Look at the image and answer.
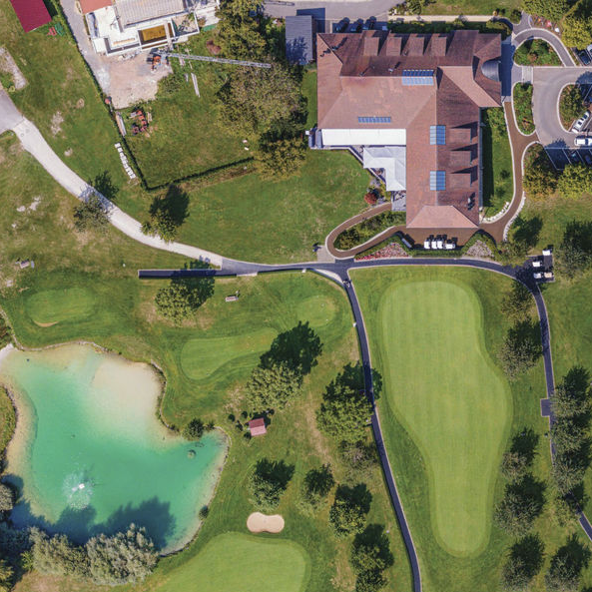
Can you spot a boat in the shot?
No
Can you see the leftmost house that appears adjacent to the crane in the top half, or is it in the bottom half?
top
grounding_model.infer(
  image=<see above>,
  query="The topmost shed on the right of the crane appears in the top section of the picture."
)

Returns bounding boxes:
[285,15,312,65]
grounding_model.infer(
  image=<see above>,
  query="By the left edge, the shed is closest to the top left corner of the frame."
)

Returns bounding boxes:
[10,0,53,33]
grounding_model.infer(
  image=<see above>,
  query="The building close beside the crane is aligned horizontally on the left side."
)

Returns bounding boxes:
[80,0,219,58]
